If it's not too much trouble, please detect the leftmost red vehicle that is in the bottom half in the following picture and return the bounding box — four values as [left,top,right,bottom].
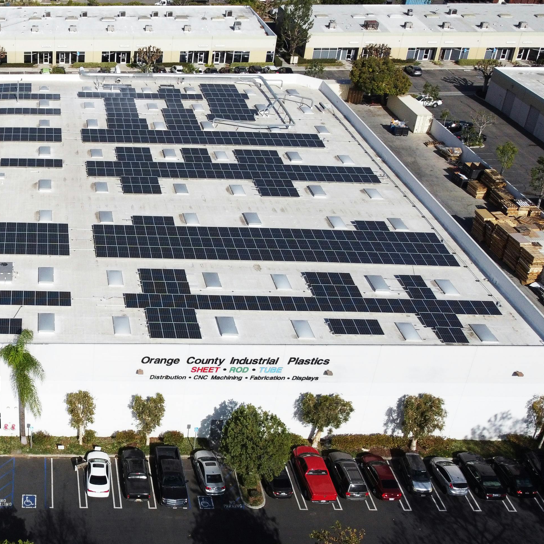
[291,447,333,501]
